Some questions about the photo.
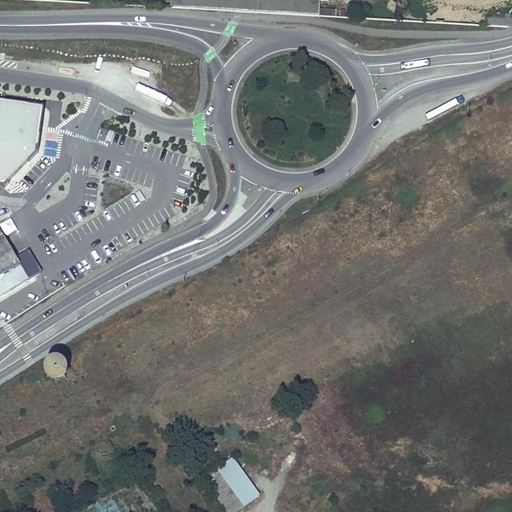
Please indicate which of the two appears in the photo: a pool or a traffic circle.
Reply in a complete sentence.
The image shows a traffic circle.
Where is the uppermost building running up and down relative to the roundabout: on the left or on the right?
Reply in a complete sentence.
You can see the uppermost building running up and down positioned to the left of the roundabout.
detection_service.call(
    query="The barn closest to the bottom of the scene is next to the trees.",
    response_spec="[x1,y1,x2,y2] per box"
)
[220,458,260,506]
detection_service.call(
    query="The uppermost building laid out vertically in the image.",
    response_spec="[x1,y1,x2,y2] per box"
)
[0,98,45,192]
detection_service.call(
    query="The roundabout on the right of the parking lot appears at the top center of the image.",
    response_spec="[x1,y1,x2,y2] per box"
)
[213,29,376,192]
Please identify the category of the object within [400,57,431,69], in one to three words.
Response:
vehicle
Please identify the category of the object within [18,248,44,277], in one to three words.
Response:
building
